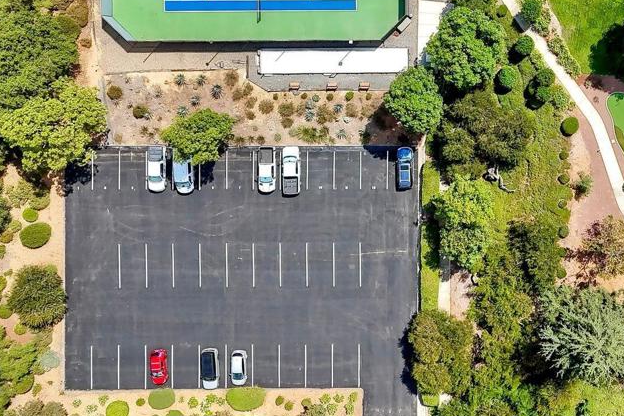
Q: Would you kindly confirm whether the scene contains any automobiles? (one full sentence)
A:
Yes, the photo shows an automobile.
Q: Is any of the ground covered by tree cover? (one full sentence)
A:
Yes, tree cover can be seen from above here.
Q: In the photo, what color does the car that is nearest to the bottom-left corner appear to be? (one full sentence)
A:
The color of the car that is nearest to the bottom-left corner is red.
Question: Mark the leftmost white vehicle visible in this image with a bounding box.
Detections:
[145,146,167,192]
